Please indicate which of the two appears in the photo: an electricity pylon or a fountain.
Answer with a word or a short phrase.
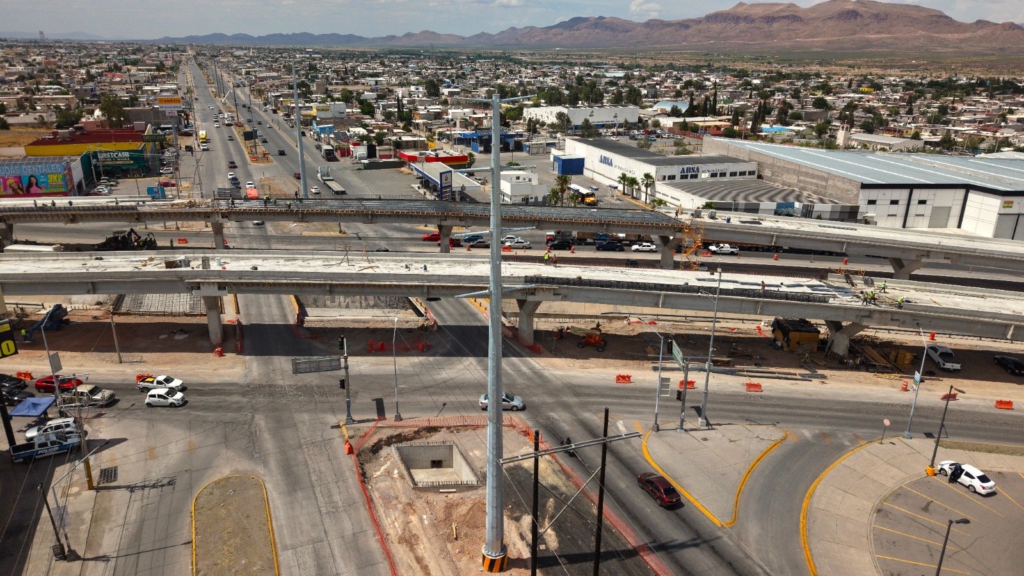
electricity pylon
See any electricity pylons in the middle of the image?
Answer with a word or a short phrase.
Yes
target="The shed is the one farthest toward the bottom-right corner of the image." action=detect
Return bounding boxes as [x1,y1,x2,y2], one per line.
[771,316,819,352]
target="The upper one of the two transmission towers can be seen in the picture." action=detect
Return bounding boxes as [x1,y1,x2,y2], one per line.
[292,61,309,193]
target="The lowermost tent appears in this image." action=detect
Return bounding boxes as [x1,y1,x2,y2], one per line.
[9,396,54,422]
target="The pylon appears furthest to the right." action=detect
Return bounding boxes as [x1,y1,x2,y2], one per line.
[448,94,539,571]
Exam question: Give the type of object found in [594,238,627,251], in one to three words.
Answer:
vehicle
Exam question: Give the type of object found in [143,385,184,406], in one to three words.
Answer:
car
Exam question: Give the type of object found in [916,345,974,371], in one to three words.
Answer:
truck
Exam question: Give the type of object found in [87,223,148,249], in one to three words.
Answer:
work vehicle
